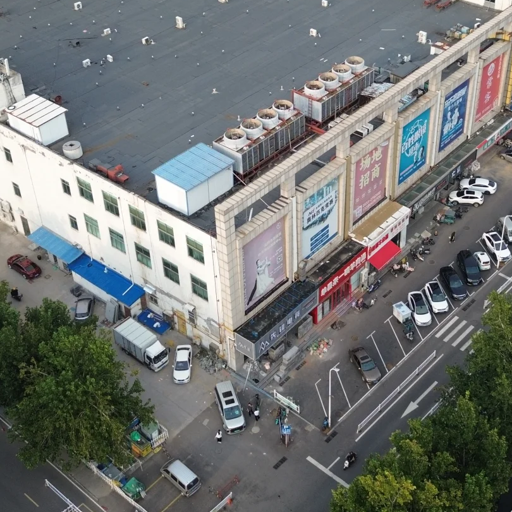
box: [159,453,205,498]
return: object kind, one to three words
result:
vehicle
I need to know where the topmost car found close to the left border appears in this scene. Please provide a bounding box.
[7,255,41,280]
